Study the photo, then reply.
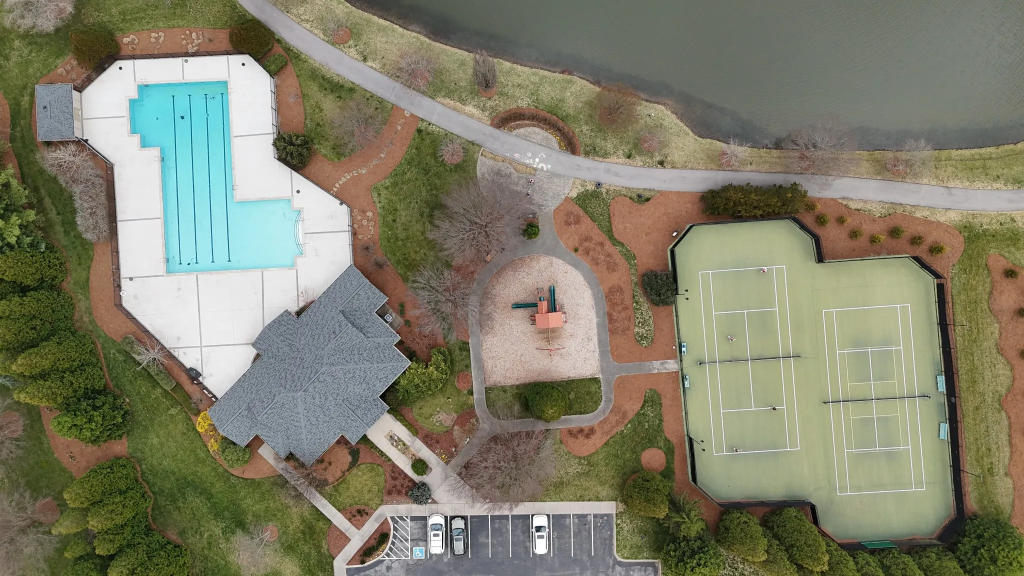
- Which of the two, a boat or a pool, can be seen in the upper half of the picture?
pool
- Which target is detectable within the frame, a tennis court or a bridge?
tennis court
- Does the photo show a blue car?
No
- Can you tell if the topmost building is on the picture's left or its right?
left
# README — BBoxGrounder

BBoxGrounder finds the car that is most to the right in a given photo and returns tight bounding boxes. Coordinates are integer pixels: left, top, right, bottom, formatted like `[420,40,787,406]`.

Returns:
[531,514,550,555]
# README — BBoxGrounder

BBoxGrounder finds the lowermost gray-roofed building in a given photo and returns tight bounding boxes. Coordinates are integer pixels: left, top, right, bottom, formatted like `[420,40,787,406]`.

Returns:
[207,264,412,467]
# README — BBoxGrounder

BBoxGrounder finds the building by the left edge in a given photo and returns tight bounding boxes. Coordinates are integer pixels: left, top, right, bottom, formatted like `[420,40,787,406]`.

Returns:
[35,83,85,142]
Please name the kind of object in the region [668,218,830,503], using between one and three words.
tennis court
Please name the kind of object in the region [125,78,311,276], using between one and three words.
swimming pool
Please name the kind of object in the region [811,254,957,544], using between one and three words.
tennis court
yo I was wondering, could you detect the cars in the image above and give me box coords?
[427,513,446,555]
[531,514,550,555]
[449,517,467,557]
